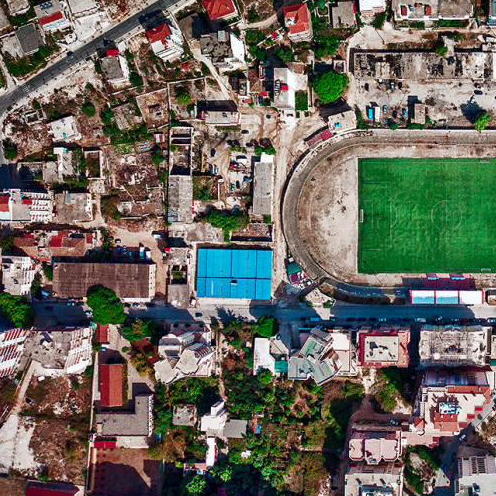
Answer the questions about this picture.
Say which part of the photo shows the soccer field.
right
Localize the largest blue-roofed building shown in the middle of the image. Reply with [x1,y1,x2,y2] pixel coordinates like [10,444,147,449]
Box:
[196,248,276,299]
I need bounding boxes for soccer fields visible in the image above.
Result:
[358,158,496,273]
